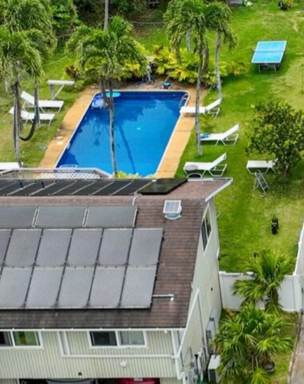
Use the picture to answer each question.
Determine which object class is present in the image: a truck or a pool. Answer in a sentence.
There is a pool in the scene.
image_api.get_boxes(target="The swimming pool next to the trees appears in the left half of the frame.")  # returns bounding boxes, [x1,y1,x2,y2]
[52,94,186,178]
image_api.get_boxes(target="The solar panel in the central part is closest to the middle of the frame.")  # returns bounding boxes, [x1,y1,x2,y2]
[164,192,180,208]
